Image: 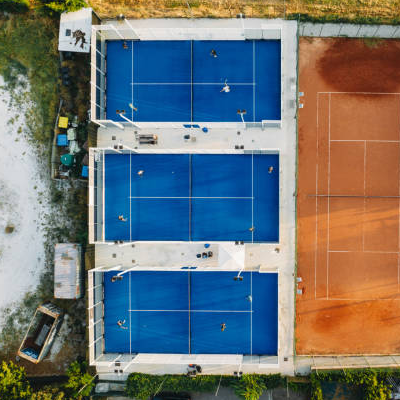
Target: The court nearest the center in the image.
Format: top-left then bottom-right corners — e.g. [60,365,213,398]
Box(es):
[89,146,282,245]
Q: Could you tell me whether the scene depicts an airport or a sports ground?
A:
sports ground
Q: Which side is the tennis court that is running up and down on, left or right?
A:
right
